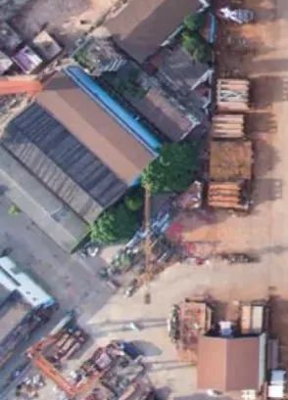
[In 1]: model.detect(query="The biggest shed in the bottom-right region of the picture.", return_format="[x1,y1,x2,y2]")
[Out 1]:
[197,329,268,393]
